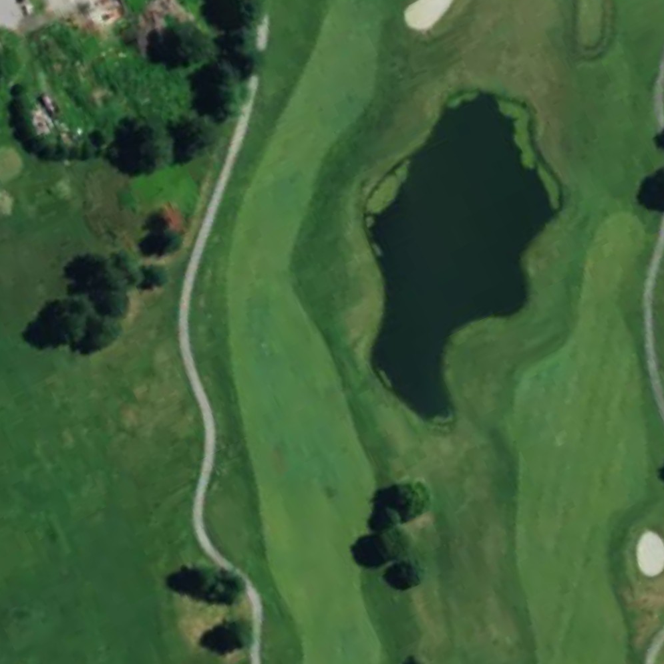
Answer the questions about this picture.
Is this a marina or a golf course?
golf course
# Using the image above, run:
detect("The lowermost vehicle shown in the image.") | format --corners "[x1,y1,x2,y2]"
[42,95,54,110]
